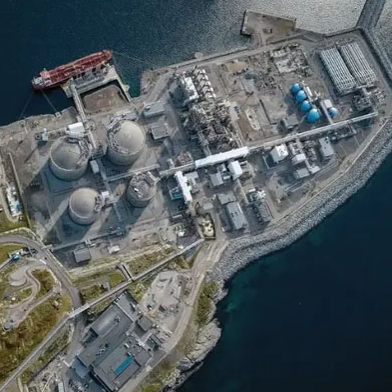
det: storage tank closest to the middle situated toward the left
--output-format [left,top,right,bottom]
[125,171,156,206]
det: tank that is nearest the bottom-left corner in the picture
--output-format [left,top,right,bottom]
[66,187,105,223]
